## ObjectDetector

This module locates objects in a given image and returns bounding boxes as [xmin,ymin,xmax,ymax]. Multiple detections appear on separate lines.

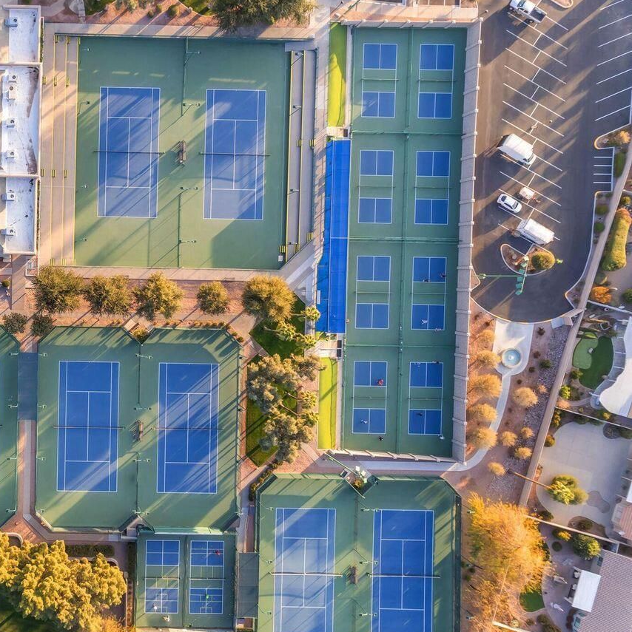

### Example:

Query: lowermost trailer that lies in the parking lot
[509,218,553,244]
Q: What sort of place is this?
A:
sports ground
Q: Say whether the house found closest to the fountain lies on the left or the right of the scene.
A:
right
